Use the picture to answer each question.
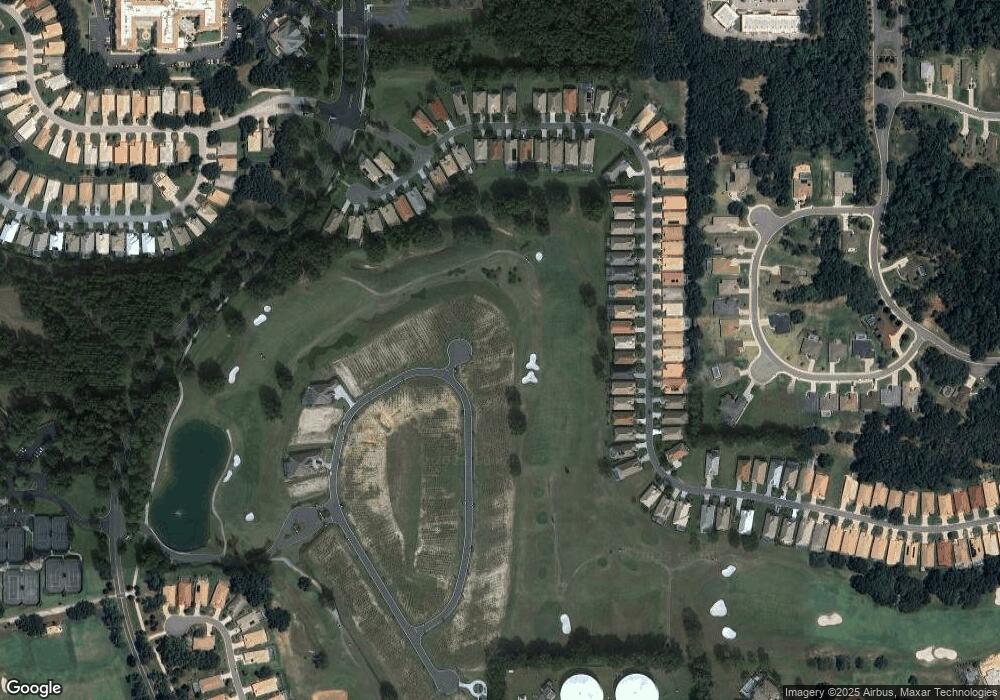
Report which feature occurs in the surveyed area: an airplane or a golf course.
golf course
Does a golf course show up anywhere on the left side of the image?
Yes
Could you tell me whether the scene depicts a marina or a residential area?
residential area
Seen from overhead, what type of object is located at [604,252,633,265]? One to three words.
house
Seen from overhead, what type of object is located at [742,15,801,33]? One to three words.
building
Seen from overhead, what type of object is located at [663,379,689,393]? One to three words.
house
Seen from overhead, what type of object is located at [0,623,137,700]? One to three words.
golf course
